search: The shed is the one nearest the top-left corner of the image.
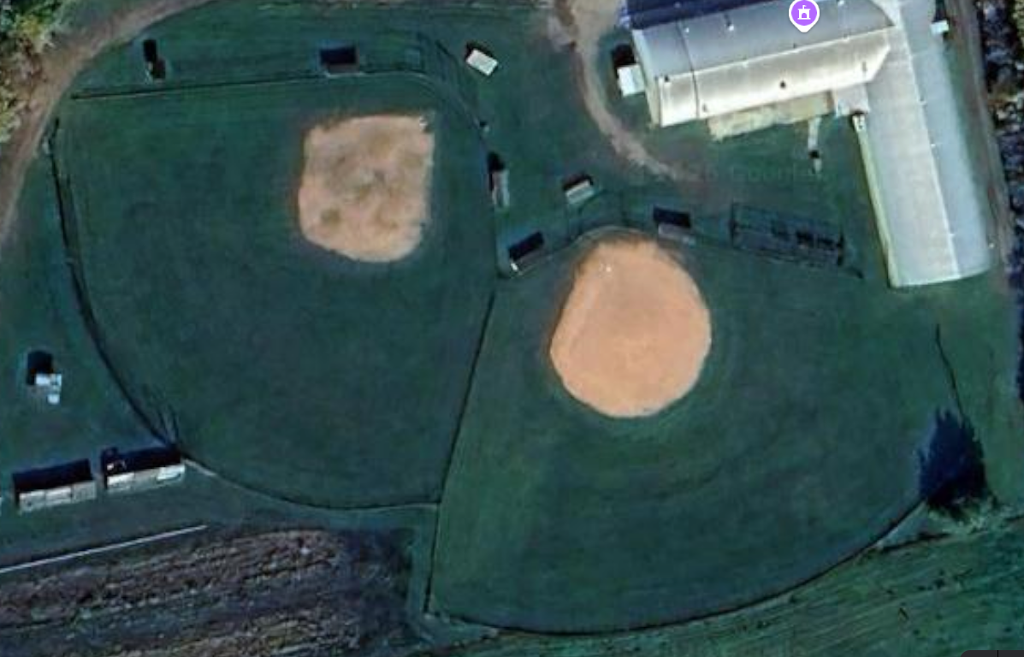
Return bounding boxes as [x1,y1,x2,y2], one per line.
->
[148,56,166,81]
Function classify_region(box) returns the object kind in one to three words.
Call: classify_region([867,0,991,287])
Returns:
building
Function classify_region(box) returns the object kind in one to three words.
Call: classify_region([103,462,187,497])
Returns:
shed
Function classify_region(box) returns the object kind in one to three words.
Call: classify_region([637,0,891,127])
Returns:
barn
